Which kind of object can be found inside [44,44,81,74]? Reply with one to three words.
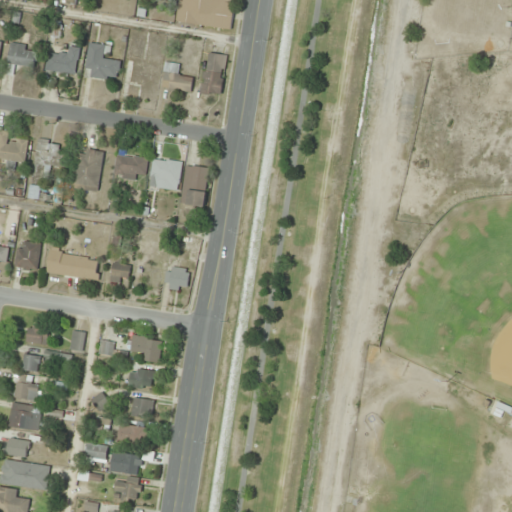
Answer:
house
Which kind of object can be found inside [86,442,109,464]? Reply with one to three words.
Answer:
house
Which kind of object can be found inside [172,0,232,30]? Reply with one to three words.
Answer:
building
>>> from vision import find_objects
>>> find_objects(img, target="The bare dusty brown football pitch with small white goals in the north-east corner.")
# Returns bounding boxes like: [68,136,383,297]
[432,0,512,47]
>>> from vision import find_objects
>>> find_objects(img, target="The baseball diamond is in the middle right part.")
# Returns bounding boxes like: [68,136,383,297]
[382,195,512,403]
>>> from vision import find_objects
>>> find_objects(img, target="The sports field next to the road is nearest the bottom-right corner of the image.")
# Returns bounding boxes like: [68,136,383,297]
[361,399,479,512]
